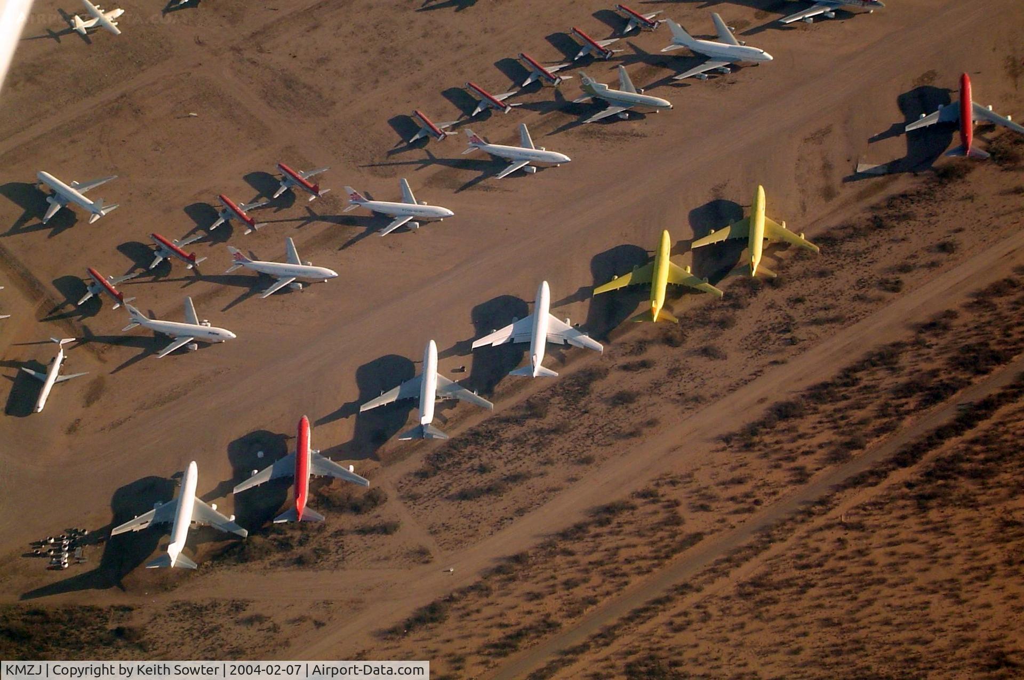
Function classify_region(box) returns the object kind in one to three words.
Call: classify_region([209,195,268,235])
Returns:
airplane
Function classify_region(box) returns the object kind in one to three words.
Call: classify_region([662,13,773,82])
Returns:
airplane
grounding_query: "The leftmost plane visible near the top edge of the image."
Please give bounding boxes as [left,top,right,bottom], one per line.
[72,0,126,35]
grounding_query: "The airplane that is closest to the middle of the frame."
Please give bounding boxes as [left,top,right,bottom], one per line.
[473,282,603,378]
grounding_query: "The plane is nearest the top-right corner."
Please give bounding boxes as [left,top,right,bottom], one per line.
[906,75,1024,156]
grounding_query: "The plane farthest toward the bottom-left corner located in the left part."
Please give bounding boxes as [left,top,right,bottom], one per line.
[110,461,248,570]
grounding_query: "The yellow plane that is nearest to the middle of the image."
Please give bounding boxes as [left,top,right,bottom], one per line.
[595,231,723,324]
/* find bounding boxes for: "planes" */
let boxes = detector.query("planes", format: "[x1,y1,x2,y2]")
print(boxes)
[662,13,773,82]
[360,340,493,440]
[571,30,622,61]
[408,109,459,144]
[226,237,339,299]
[110,461,248,570]
[209,195,268,235]
[595,231,723,324]
[775,0,885,24]
[575,66,673,125]
[77,268,138,310]
[466,84,521,117]
[72,0,126,35]
[149,234,206,270]
[37,172,118,223]
[463,124,571,180]
[906,75,1024,156]
[122,295,236,359]
[614,4,668,35]
[520,56,571,88]
[21,339,89,414]
[233,417,369,524]
[273,164,329,202]
[692,188,819,277]
[473,282,603,378]
[345,178,456,237]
